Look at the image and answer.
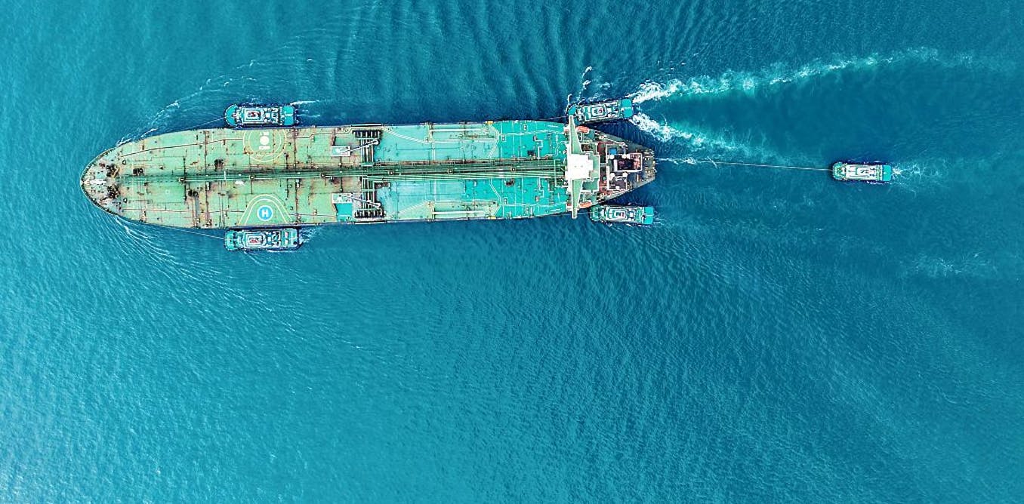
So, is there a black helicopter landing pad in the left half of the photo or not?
No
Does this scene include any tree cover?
No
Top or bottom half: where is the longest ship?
top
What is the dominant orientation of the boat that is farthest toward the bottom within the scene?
from left to right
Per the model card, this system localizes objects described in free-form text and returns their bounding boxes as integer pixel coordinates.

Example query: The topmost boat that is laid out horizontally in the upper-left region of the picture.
[225,105,296,127]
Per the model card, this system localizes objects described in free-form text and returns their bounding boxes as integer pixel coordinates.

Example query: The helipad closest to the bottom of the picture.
[239,194,295,224]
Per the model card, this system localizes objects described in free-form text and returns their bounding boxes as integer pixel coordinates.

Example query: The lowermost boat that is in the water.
[224,228,299,251]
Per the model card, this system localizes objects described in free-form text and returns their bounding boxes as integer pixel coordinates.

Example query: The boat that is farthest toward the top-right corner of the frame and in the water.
[830,162,892,183]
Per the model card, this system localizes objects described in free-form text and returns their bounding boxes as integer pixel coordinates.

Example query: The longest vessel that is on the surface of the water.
[79,115,656,228]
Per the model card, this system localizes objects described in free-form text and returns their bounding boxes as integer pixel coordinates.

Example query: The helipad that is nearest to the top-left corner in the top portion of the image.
[242,128,286,162]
